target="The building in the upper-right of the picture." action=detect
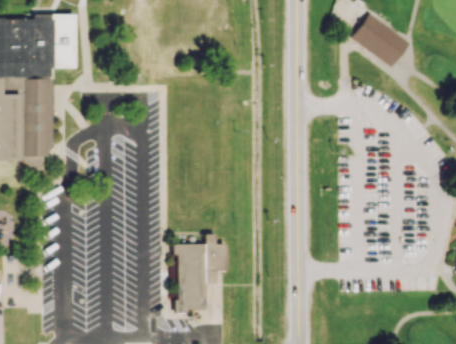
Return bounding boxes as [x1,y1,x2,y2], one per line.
[352,12,410,67]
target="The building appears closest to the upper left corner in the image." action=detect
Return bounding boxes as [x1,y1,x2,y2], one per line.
[0,14,79,170]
